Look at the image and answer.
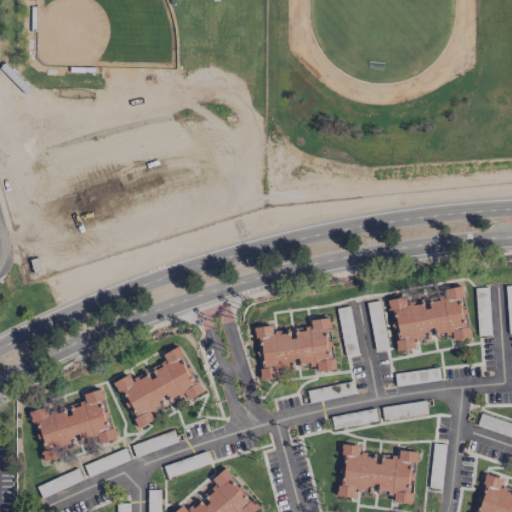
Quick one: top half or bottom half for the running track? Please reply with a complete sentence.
Seen from above, the running track lies in the top half of the view.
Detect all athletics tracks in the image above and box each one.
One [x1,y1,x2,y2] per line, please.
[289,0,477,105]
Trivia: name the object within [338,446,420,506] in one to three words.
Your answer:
building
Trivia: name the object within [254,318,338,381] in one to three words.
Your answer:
building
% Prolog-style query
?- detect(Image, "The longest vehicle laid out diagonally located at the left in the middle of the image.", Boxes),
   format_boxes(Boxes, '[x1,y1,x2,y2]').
[72,214,85,232]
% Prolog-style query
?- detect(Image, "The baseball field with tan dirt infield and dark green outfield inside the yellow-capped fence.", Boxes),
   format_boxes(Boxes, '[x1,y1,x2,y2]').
[38,0,176,67]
